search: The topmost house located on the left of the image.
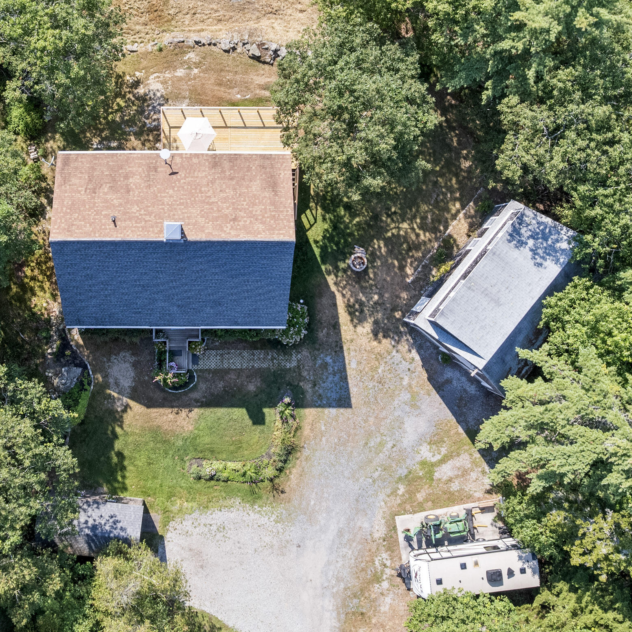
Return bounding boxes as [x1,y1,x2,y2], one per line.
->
[50,149,295,331]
